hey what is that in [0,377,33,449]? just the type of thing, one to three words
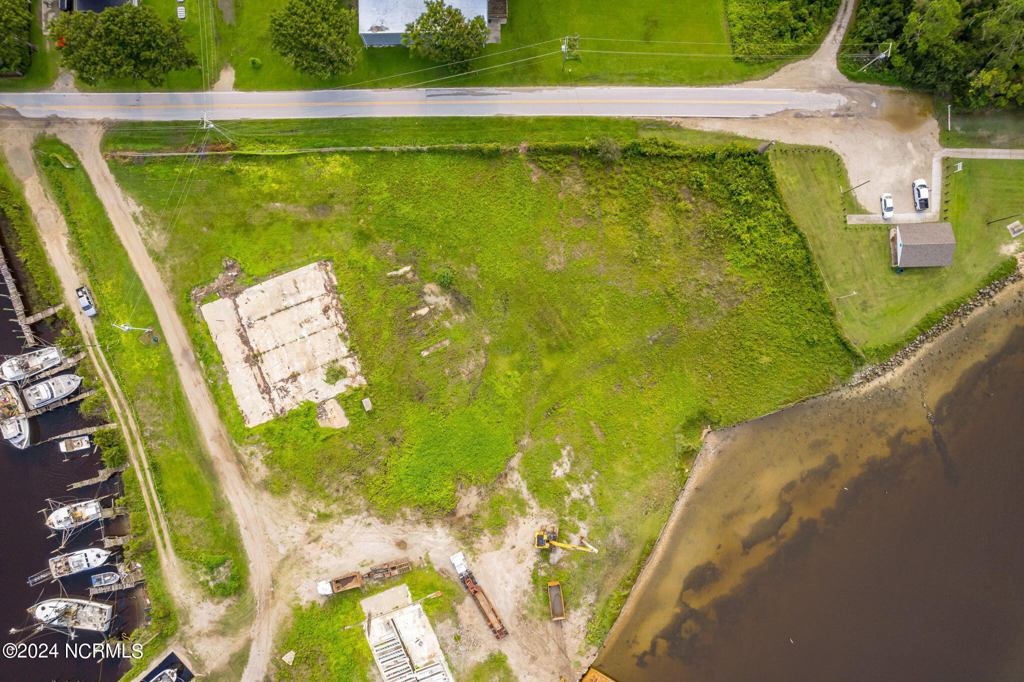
boat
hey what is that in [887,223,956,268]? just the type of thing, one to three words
building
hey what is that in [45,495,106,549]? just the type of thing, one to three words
boat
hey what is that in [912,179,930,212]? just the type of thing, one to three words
vehicle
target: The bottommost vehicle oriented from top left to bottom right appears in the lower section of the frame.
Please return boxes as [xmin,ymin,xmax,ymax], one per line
[465,577,515,653]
